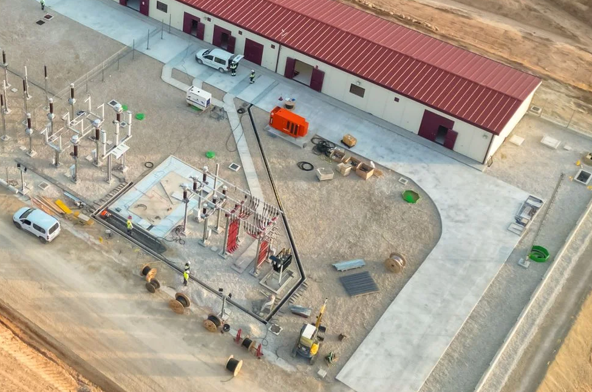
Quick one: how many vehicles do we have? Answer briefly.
3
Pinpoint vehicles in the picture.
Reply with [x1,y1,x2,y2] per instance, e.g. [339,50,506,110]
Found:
[14,205,63,246]
[196,44,245,72]
[291,303,331,360]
